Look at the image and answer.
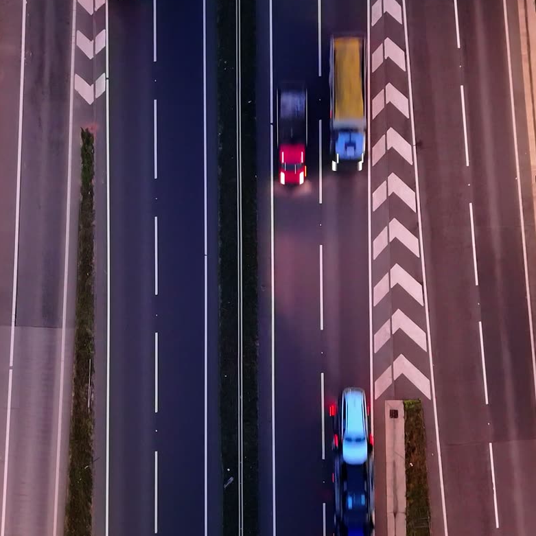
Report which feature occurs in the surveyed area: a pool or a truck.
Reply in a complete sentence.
Visible in the photo is a truck.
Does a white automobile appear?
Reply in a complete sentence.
No, I find no white automobile anywhere in the image.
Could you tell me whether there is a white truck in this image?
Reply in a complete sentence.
No, I find no white truck anywhere in the image.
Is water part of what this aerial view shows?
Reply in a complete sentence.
No, no water is visible.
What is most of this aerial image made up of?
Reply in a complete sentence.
The bulk of the photo consists of paved ground.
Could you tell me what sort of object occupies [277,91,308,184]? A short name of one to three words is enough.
truck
